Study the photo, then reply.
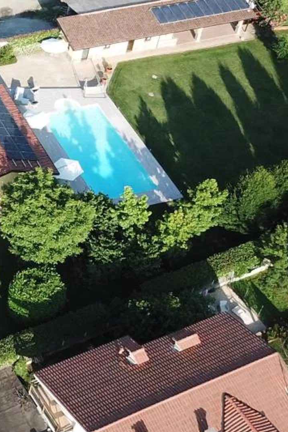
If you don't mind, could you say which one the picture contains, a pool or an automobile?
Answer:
pool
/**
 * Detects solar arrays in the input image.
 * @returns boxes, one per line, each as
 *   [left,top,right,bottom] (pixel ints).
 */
[152,0,251,25]
[0,96,37,161]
